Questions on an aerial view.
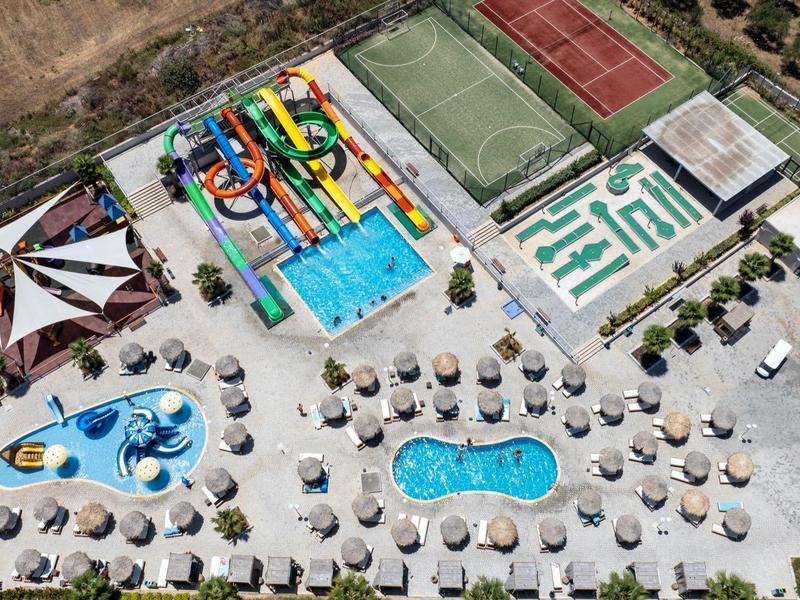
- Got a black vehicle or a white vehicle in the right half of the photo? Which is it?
white vehicle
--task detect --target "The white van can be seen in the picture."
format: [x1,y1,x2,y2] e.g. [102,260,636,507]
[755,340,792,380]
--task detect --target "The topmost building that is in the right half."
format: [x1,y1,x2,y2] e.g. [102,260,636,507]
[641,95,788,214]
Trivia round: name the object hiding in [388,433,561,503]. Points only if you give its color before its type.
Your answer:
blue swimming pool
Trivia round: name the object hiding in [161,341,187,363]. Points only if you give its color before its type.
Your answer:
gray umbrella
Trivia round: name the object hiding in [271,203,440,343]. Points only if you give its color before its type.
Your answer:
blue swimming pool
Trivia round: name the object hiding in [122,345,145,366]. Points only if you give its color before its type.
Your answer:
gray umbrella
